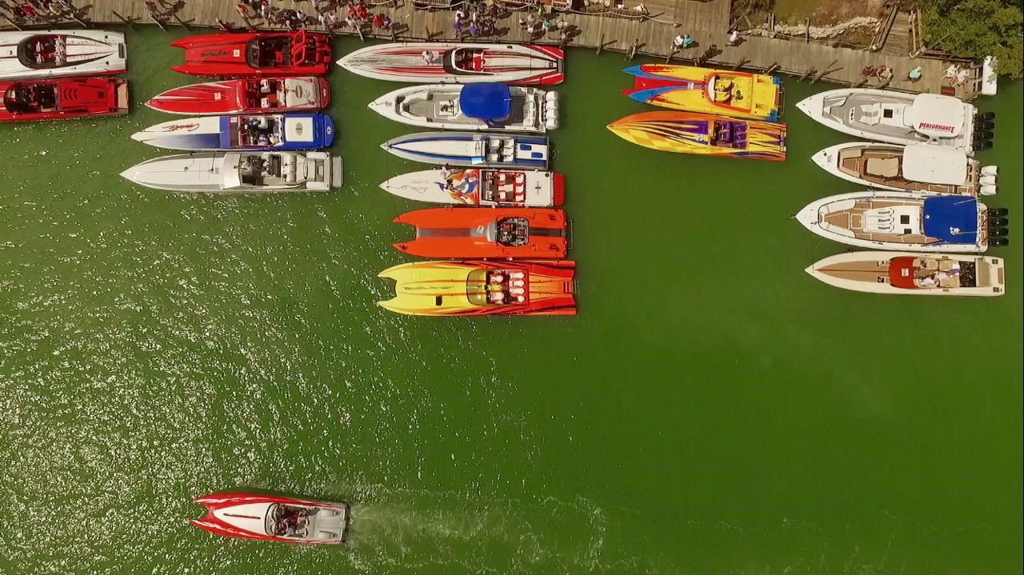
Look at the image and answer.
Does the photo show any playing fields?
No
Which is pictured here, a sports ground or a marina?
marina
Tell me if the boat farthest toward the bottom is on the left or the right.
left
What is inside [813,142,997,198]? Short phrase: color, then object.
white boat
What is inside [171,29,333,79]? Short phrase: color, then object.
red boat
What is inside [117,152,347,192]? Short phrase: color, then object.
white boat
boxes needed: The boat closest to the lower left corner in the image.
[192,494,353,544]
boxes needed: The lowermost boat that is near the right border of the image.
[805,251,1005,296]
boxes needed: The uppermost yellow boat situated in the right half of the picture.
[619,65,786,122]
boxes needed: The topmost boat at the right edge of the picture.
[795,89,995,157]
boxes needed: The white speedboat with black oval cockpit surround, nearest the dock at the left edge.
[0,31,135,78]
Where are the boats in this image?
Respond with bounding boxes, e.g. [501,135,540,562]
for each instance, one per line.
[0,78,135,121]
[377,169,564,208]
[171,29,333,79]
[143,78,331,117]
[619,65,786,122]
[367,80,560,133]
[813,142,997,198]
[117,152,347,192]
[393,209,573,259]
[792,191,1009,253]
[129,115,335,153]
[334,43,564,87]
[0,31,135,78]
[795,89,995,157]
[805,251,1005,296]
[192,494,353,544]
[378,261,577,317]
[379,131,556,170]
[606,111,787,162]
